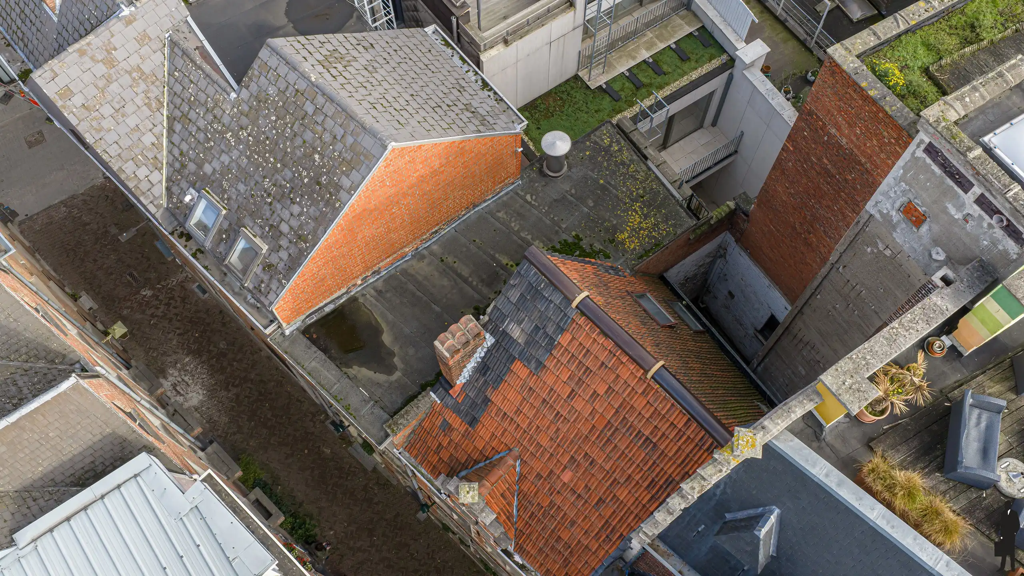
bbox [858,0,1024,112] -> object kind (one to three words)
building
